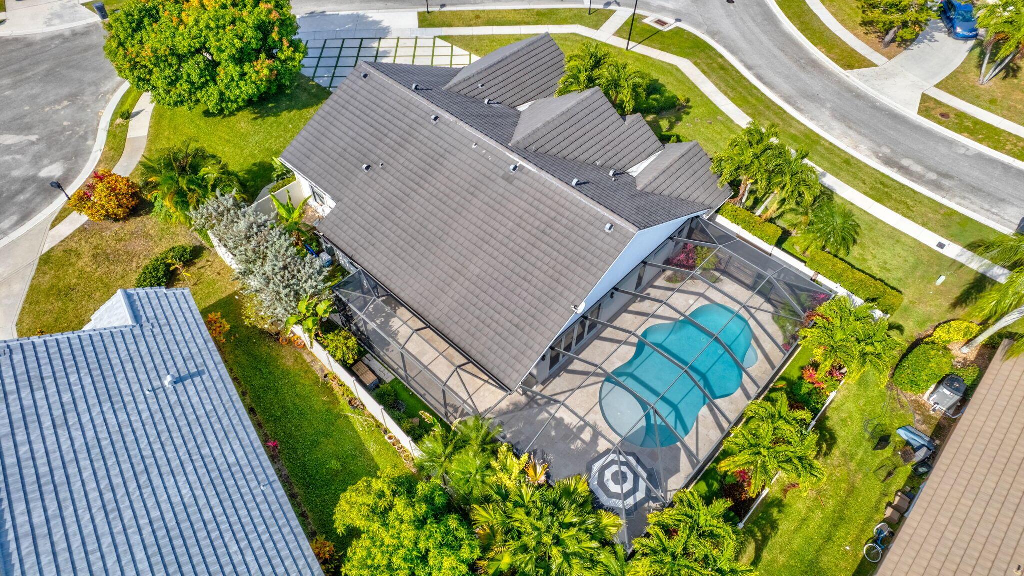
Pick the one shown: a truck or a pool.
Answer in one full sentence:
It is a pool that can be seen here.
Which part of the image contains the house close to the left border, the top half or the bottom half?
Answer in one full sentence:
The house close to the left border is in the bottom half of the image.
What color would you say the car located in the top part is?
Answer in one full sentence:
The color of the car located in the top part is blue.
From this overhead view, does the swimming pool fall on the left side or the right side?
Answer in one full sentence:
It is on the right.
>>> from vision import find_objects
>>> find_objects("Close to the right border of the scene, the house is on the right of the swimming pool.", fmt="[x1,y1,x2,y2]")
[877,344,1024,576]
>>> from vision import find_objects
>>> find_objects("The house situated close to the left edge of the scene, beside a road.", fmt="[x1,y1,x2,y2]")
[0,283,326,576]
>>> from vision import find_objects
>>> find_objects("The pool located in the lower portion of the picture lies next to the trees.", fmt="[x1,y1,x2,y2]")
[593,298,764,454]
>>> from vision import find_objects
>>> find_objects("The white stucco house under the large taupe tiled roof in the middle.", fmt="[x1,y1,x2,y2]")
[278,30,735,408]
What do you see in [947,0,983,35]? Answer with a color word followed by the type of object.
blue car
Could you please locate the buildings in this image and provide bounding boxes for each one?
[278,30,735,408]
[877,344,1024,576]
[0,283,326,576]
